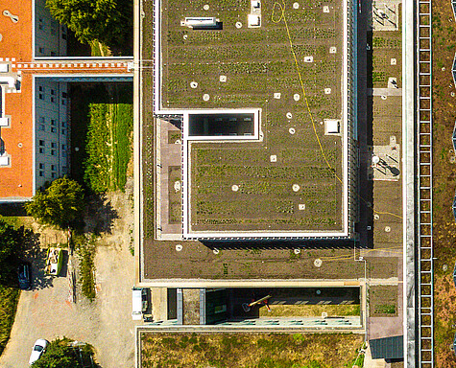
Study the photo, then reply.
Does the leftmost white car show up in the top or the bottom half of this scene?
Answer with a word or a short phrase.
bottom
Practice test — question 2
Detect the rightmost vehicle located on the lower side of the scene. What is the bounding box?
[130,289,145,322]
